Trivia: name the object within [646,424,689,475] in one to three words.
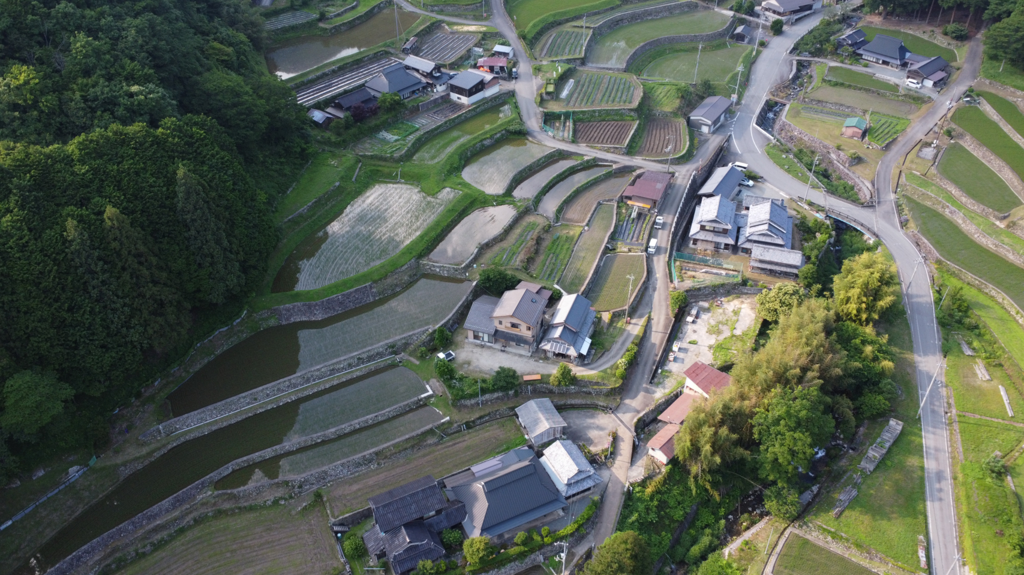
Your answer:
shed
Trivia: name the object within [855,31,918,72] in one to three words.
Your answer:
house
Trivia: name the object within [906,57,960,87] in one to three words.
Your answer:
building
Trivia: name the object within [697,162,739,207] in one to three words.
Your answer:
barn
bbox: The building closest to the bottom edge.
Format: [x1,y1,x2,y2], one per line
[361,518,446,575]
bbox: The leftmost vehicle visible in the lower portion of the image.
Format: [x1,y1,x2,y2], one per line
[435,349,456,362]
